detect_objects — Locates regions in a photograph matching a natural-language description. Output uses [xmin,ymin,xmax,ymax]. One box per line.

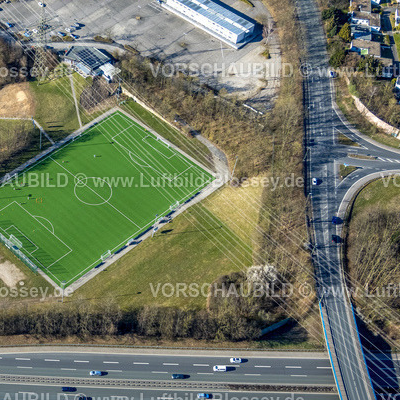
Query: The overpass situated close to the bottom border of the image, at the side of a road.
[319,295,379,400]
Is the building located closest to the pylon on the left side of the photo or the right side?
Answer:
left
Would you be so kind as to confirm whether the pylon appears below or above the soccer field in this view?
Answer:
above it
